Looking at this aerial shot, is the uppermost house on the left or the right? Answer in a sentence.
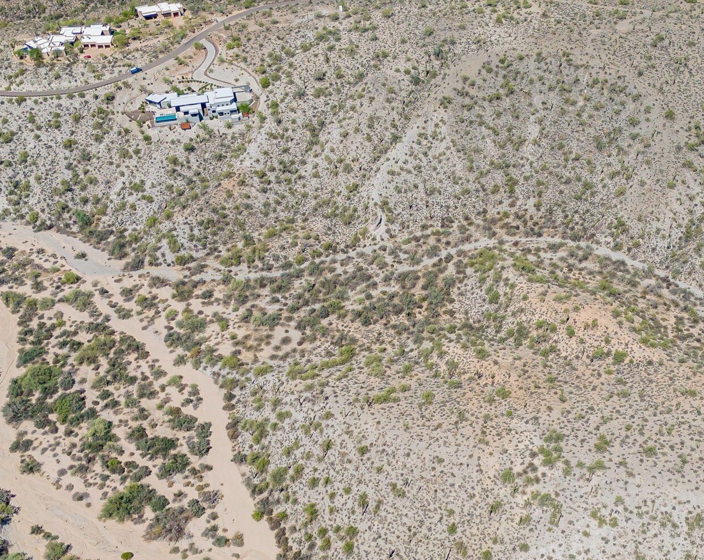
It is on the left.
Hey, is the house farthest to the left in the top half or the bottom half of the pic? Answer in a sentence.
The house farthest to the left sits in the top half of the picture.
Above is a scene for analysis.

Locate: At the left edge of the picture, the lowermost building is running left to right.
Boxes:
[15,25,124,62]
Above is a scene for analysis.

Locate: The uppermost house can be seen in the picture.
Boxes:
[136,2,186,26]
